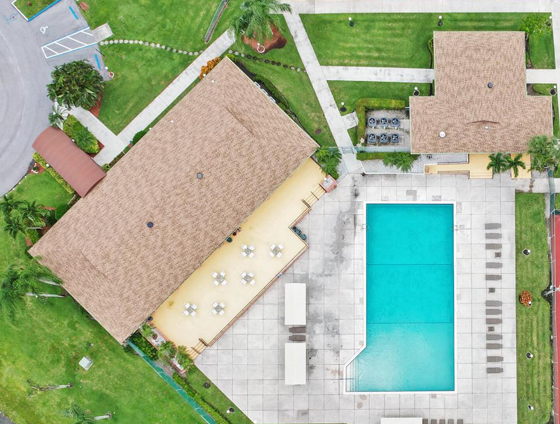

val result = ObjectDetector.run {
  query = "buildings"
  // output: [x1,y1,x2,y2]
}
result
[31,57,319,344]
[410,31,553,154]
